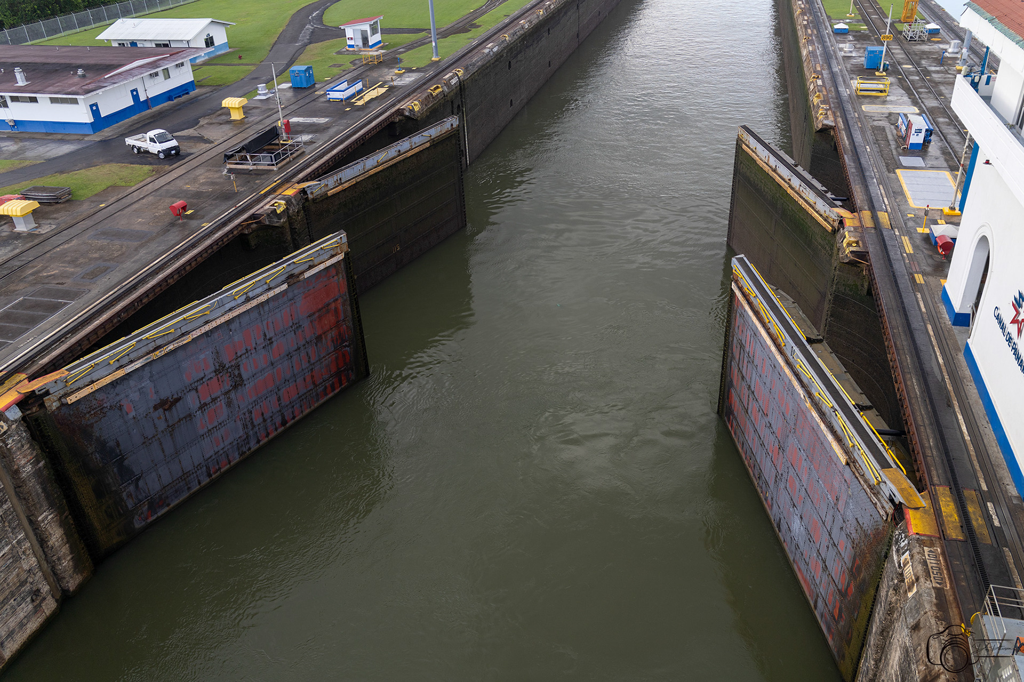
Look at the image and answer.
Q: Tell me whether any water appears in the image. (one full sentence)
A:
Yes, the picture does contain water.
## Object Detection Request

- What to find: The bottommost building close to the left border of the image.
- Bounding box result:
[0,47,212,133]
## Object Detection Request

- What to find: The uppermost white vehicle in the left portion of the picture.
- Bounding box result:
[132,130,178,157]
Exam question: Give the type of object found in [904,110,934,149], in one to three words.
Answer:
shed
